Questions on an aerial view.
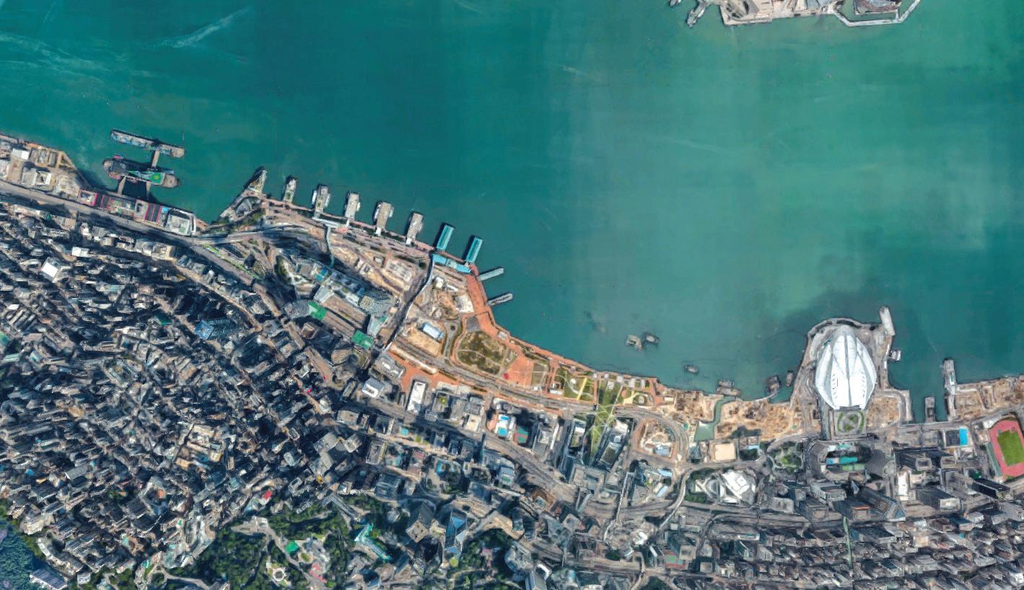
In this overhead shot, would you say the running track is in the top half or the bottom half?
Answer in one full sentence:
The running track sits in the bottom half of the picture.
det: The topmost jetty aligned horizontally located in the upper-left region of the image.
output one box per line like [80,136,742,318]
[111,130,186,157]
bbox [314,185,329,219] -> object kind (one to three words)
pier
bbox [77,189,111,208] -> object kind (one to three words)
building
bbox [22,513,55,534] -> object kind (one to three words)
house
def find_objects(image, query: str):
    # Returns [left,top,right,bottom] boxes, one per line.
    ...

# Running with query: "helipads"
[128,171,165,186]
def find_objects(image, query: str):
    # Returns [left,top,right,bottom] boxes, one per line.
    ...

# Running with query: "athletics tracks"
[989,419,1024,481]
